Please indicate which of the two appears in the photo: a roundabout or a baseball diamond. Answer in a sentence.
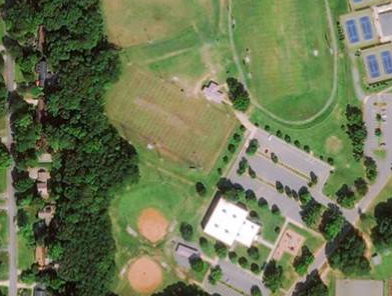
The image shows a baseball diamond.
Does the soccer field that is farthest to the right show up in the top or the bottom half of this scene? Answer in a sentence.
Seen from above, the soccer field that is farthest to the right lies in the top half of the view.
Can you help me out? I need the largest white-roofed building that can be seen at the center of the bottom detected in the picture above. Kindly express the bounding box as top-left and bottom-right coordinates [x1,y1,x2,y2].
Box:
[203,198,263,247]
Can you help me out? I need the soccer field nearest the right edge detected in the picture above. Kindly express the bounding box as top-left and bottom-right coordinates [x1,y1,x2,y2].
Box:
[231,0,334,120]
